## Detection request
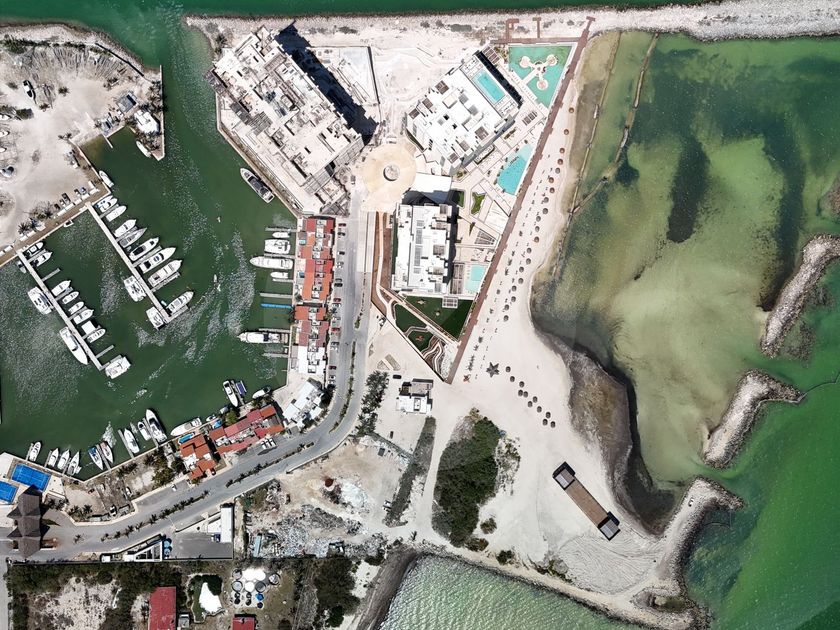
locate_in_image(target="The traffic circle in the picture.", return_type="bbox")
[362,148,417,212]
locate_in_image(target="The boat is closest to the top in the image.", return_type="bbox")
[20,78,33,100]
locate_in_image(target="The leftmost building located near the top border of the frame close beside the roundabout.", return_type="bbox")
[213,26,365,192]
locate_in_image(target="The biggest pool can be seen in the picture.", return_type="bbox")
[508,45,573,108]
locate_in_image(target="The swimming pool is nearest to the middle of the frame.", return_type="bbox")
[465,265,486,292]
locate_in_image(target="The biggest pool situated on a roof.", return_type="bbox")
[478,73,505,103]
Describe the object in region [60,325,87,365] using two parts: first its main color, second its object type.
white boat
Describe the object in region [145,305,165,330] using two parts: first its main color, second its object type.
white boat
